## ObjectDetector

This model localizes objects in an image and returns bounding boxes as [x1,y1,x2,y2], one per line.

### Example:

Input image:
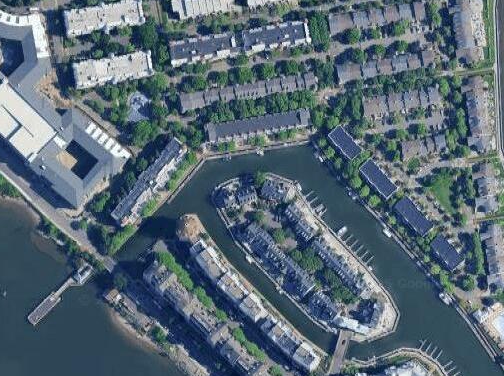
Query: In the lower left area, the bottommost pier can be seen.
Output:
[28,262,95,325]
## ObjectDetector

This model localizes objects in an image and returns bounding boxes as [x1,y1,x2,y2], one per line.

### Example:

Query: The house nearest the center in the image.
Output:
[237,178,257,205]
